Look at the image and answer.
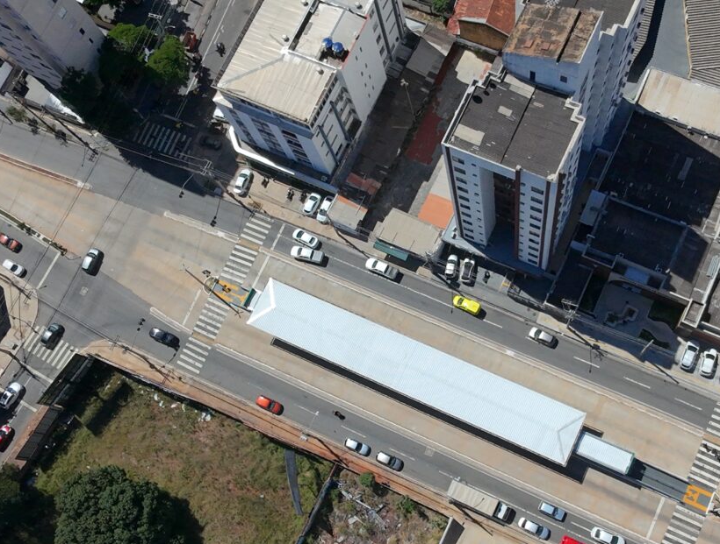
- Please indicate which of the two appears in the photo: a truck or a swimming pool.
truck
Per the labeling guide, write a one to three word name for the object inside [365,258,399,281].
truck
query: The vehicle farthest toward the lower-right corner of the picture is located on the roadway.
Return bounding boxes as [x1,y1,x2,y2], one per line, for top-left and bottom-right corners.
[589,527,626,544]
